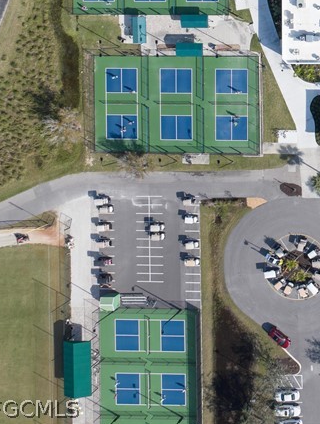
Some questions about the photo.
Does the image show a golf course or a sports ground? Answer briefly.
sports ground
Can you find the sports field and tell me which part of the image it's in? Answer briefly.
bottom left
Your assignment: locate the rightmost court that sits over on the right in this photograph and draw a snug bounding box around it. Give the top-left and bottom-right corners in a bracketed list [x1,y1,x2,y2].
[204,56,259,154]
